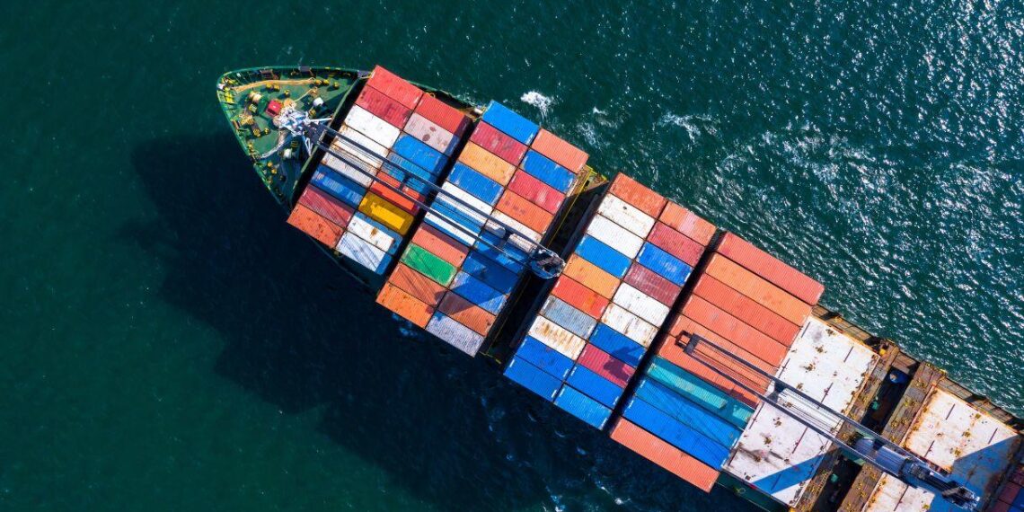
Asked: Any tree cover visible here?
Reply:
No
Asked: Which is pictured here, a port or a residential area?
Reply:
port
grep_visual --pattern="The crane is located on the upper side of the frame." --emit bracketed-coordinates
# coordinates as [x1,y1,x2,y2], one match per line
[302,120,565,278]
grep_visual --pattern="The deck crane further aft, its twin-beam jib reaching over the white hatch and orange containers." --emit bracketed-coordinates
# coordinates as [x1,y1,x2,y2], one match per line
[673,330,975,510]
